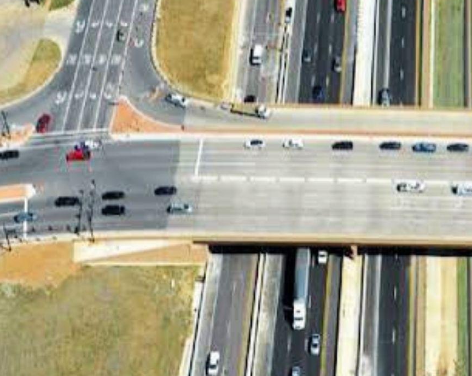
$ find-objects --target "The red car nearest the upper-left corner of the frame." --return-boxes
[38,114,50,131]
